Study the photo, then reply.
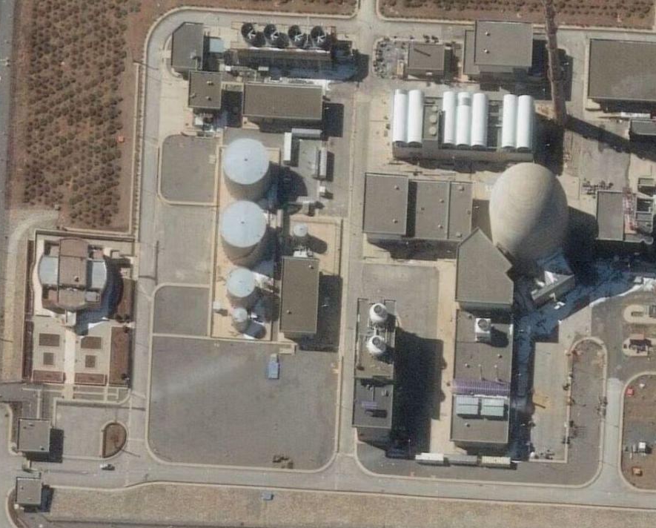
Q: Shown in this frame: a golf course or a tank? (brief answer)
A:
tank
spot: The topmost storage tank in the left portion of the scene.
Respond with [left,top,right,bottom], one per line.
[223,137,274,202]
